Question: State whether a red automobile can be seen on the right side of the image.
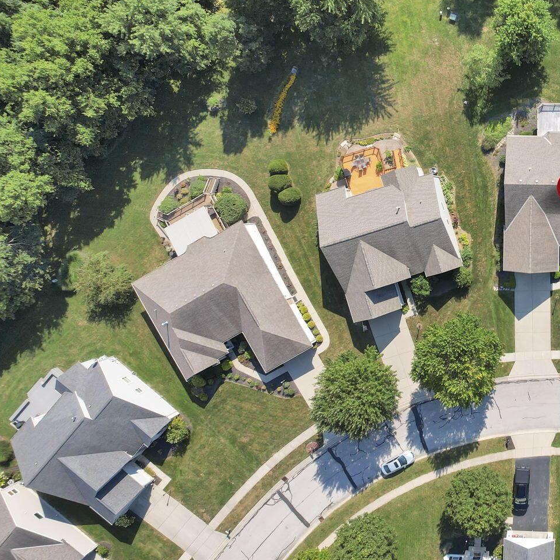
No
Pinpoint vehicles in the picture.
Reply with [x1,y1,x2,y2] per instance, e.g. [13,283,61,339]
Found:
[379,450,415,478]
[512,467,530,512]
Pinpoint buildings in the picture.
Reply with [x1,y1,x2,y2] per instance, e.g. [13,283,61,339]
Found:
[131,220,317,380]
[12,358,181,524]
[446,531,554,560]
[503,131,560,274]
[0,482,96,560]
[316,166,464,322]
